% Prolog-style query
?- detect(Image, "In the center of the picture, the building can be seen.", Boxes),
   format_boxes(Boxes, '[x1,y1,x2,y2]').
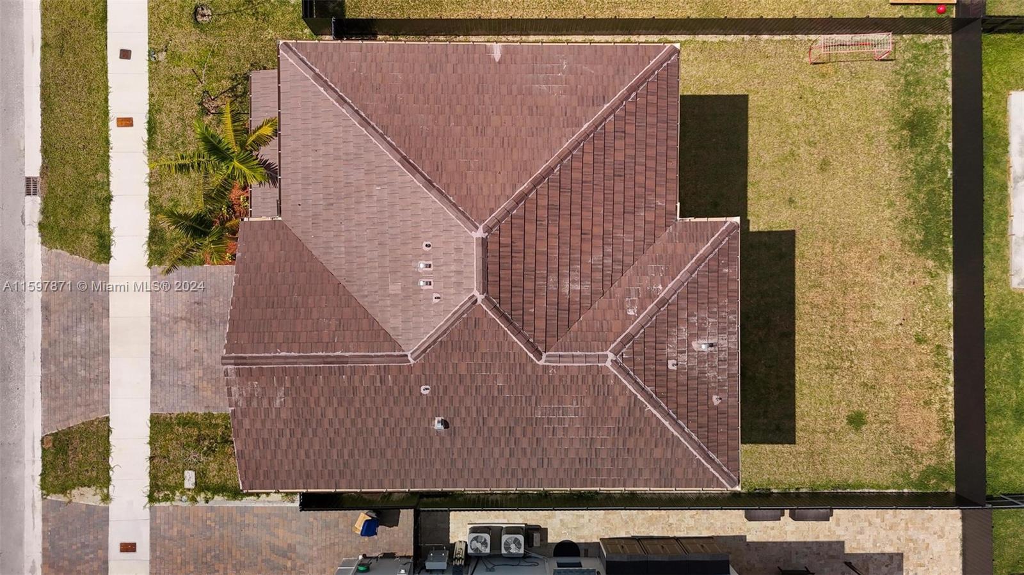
[220,39,743,494]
